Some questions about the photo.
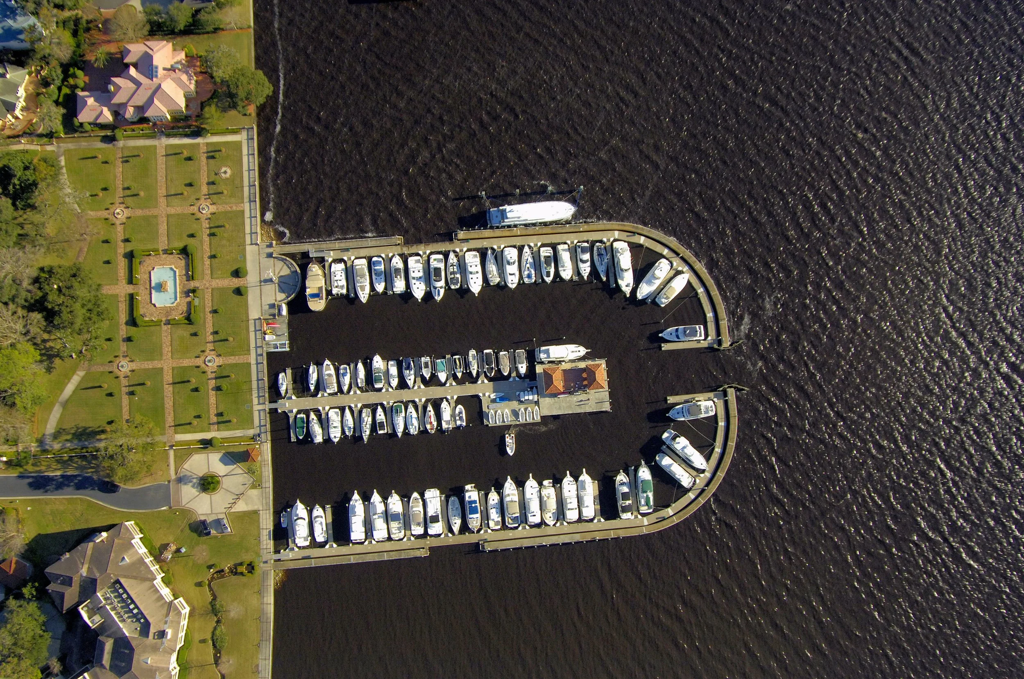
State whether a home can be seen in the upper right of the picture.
No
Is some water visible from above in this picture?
Yes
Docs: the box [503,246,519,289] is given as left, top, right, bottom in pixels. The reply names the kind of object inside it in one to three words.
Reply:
boat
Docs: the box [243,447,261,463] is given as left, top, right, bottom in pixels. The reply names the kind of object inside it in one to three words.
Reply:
gazebo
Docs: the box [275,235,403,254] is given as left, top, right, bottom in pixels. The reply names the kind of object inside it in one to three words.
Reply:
pier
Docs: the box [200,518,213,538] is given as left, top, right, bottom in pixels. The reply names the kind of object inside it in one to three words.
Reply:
vehicle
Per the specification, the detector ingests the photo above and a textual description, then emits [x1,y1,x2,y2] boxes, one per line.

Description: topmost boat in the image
[483,201,577,229]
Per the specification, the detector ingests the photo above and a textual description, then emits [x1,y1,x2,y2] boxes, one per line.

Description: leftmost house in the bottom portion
[45,521,190,679]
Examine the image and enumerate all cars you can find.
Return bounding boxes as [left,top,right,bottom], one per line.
[200,518,213,538]
[220,516,232,535]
